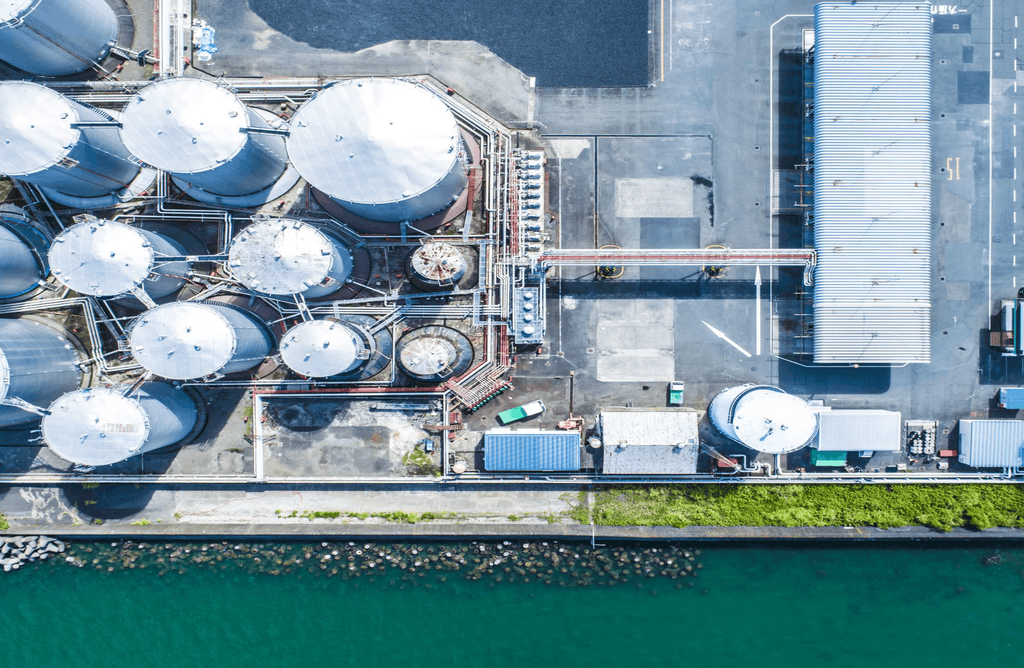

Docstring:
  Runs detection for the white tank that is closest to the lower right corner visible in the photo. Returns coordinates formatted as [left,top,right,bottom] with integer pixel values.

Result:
[707,379,824,455]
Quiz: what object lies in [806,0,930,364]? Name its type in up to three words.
building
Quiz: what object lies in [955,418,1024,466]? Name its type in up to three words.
shed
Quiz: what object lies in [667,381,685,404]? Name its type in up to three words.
vehicle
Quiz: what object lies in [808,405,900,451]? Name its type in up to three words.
building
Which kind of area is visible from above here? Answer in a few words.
industrial area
